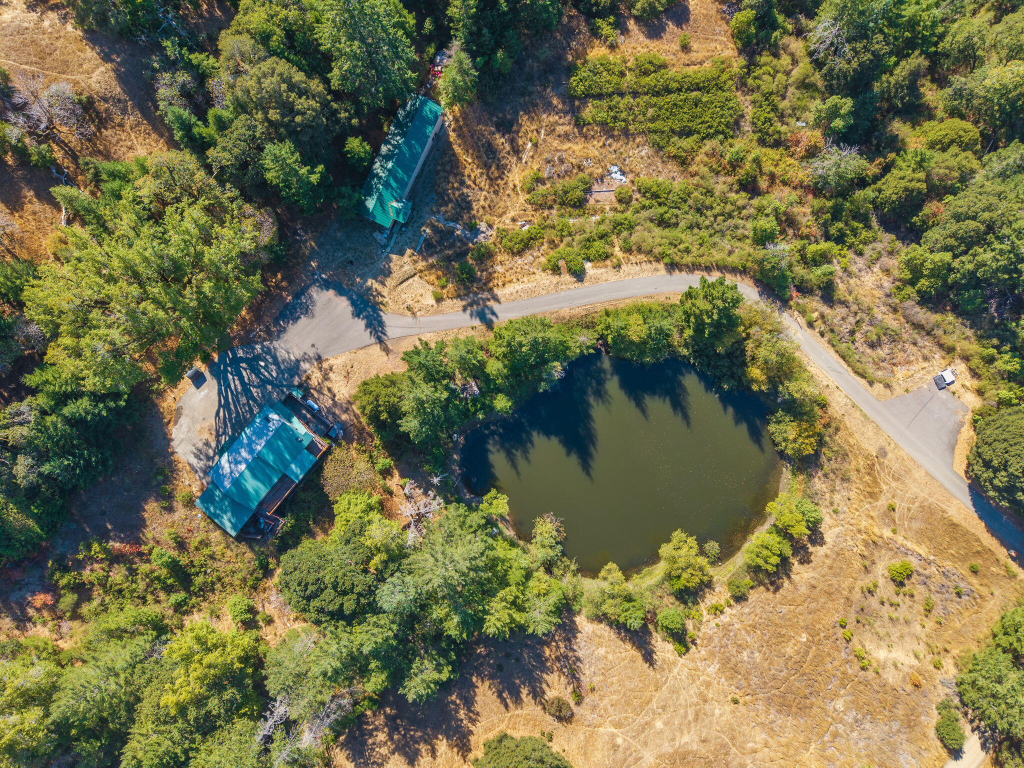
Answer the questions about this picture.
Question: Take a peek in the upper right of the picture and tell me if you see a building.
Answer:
No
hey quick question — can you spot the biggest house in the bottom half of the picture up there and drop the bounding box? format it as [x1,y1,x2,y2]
[194,393,333,537]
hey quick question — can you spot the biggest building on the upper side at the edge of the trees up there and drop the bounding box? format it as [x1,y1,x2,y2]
[353,88,447,234]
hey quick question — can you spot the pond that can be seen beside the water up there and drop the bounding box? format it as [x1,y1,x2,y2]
[456,346,784,574]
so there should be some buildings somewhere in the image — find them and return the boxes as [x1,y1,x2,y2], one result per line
[353,88,447,234]
[194,393,333,537]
